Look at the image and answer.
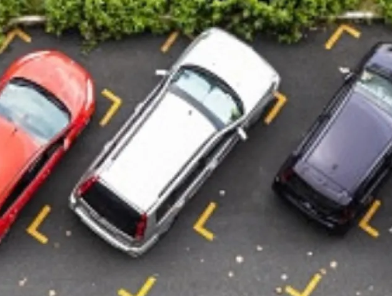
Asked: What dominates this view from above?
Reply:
paved ground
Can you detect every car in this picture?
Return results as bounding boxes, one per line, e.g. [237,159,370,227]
[0,45,96,247]
[70,27,279,260]
[275,38,392,238]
